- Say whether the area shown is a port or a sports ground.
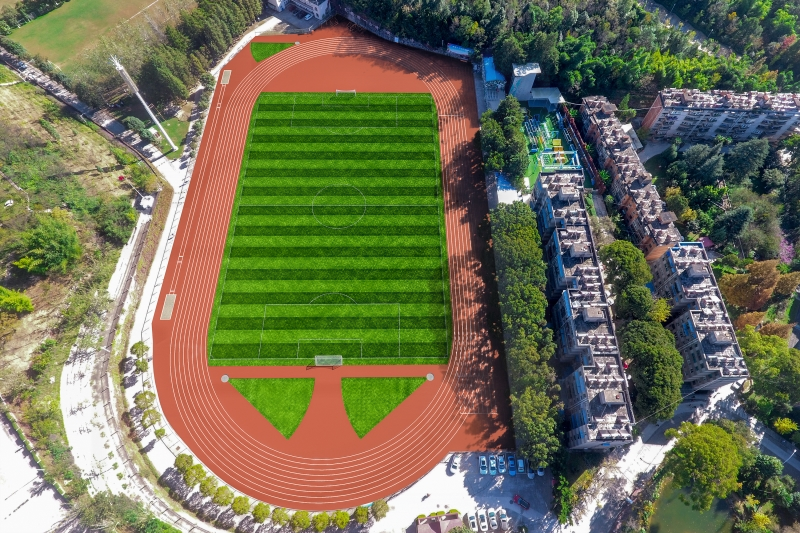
sports ground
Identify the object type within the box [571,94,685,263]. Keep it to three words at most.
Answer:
building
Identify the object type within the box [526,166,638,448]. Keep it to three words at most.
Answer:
building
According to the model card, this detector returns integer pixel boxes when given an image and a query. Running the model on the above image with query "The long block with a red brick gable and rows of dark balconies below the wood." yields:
[637,90,800,148]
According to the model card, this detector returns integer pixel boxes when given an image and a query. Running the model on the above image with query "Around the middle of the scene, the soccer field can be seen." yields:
[209,93,452,365]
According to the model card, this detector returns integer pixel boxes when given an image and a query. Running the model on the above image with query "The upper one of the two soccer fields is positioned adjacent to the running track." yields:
[15,0,208,84]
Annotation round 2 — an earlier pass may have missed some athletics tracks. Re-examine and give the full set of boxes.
[152,14,516,510]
